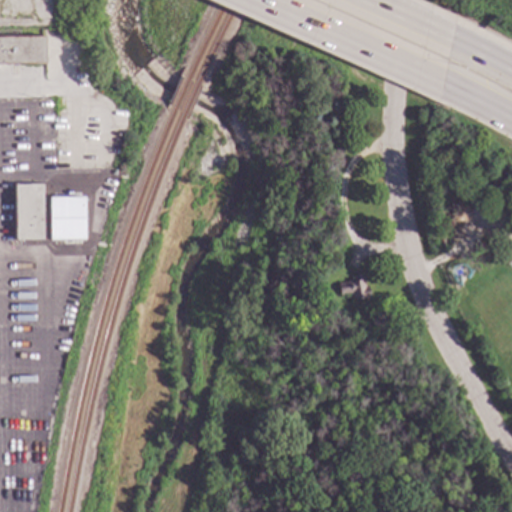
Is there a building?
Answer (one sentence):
Yes, a building is visible in the scene.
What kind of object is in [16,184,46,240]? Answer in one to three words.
building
